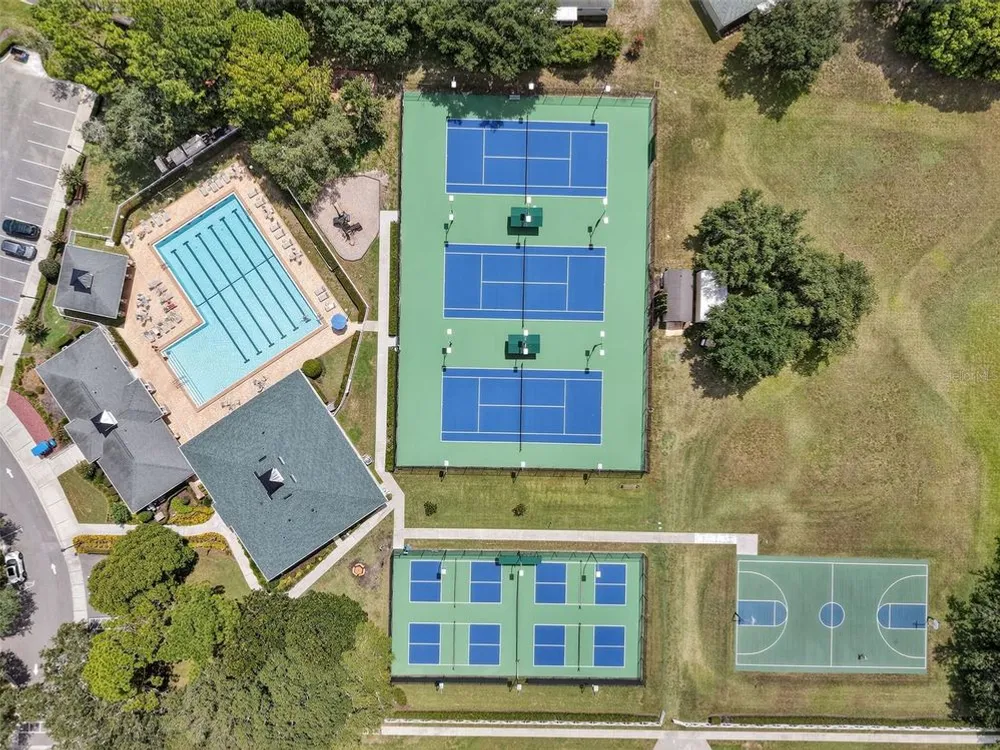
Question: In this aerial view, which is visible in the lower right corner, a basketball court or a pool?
basketball court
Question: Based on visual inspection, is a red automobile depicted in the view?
No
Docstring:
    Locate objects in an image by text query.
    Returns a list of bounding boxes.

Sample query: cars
[4,552,25,585]
[0,240,36,260]
[4,220,39,240]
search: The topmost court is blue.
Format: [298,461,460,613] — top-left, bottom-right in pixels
[445,111,608,202]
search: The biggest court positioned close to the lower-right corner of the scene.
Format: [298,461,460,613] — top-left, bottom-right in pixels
[735,554,929,677]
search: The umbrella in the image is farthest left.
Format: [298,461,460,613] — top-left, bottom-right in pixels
[331,313,348,329]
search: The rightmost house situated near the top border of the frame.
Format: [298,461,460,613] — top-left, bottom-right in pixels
[697,0,774,35]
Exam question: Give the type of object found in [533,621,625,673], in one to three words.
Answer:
sports court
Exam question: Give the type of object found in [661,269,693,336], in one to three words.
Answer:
shed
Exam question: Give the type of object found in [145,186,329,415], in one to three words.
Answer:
swimming pool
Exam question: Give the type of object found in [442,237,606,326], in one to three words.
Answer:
tennis court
